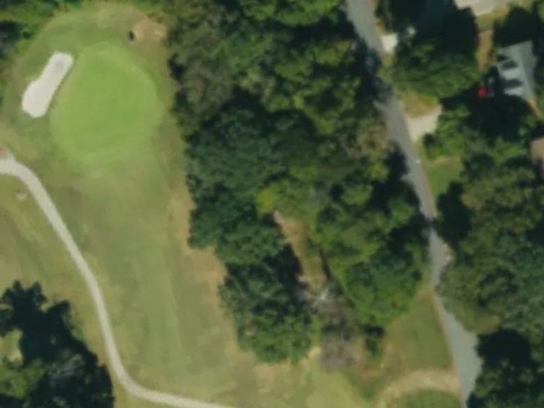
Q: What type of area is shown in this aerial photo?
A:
golf course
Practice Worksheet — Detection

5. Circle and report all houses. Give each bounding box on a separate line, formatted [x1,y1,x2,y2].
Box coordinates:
[496,39,541,100]
[444,0,523,22]
[529,138,544,171]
